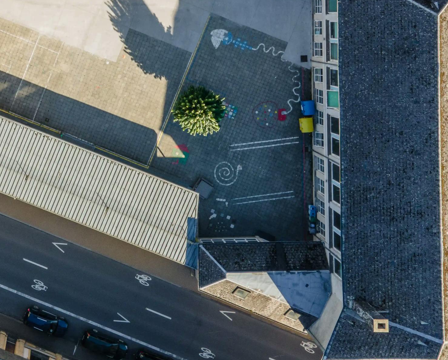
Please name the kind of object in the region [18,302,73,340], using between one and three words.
car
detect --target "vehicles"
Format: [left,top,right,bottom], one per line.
[77,326,133,360]
[130,345,177,360]
[18,302,73,340]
